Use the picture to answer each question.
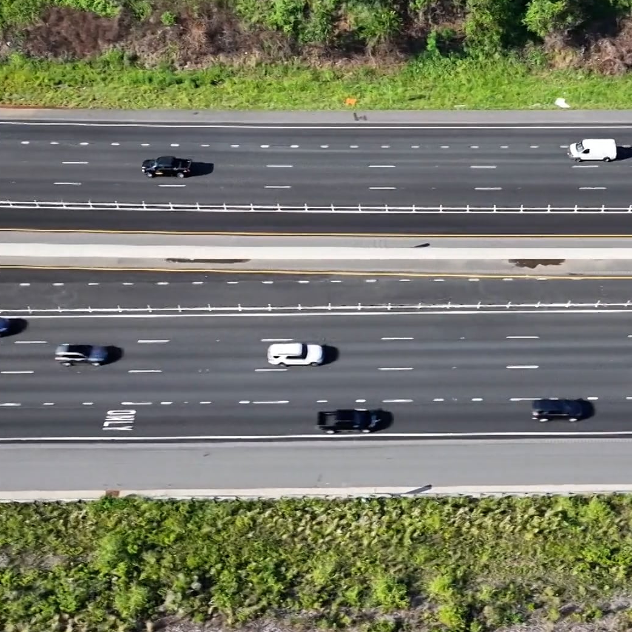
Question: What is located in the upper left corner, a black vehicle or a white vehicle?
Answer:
black vehicle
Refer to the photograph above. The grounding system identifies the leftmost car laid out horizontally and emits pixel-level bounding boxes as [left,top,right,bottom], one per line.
[53,341,108,366]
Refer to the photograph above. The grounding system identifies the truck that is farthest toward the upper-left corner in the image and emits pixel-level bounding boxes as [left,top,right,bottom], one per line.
[140,156,193,177]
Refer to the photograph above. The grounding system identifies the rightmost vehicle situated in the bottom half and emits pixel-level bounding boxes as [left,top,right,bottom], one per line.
[530,396,583,422]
